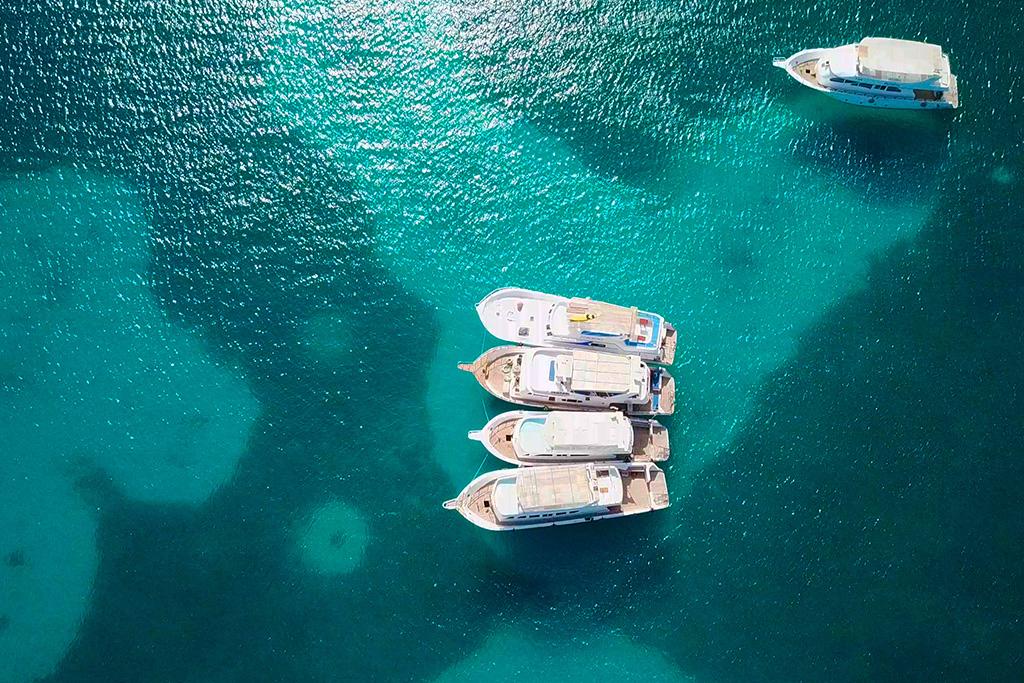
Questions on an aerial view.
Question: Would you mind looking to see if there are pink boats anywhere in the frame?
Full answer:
No, the photo shows no pink boat.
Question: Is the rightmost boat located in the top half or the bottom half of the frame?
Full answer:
The rightmost boat is in the top half of the image.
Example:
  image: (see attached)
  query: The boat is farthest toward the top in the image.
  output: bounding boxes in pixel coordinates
[772,37,959,110]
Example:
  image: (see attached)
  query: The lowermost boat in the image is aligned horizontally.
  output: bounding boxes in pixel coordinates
[441,458,670,529]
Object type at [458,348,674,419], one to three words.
boat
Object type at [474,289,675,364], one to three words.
boat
